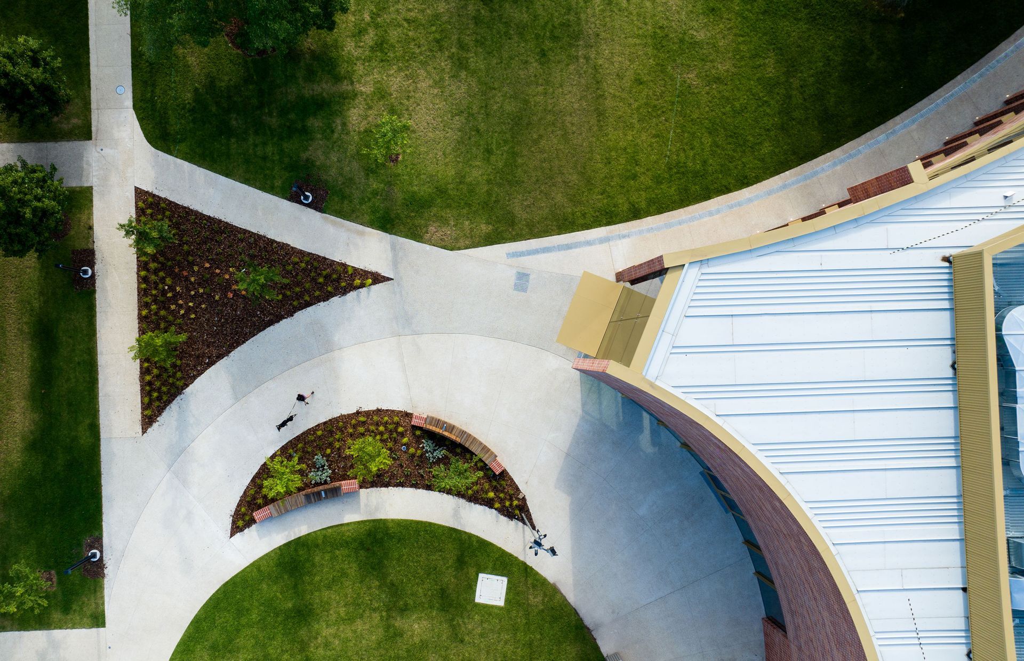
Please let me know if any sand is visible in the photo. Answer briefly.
No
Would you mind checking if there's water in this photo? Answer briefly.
No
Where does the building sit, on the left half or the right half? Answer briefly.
right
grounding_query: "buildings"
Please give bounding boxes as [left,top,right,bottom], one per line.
[556,95,1024,661]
